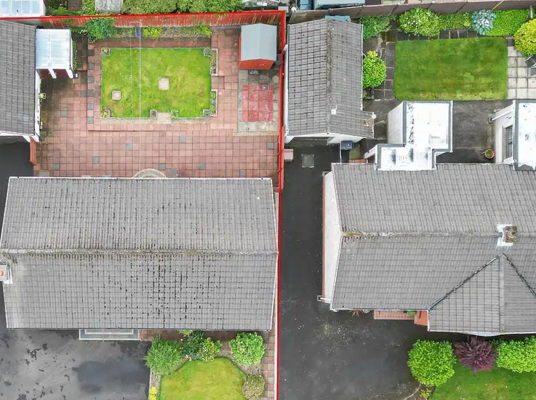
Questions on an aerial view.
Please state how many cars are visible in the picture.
0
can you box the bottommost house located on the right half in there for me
[317,162,536,336]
